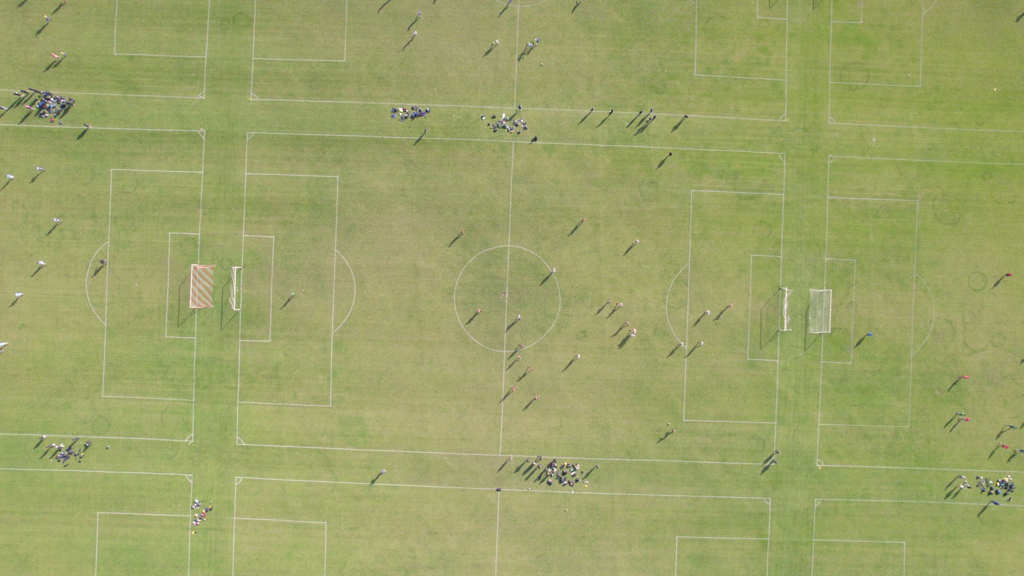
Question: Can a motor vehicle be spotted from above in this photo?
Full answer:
No, there is no motor vehicle in the image.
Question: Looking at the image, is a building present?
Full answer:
No, there isn't any building down there.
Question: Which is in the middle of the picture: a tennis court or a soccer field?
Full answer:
It is a soccer field that can be seen in the middle of the picture.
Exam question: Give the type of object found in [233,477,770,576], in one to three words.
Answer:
soccer field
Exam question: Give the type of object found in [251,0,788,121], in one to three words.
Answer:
soccer field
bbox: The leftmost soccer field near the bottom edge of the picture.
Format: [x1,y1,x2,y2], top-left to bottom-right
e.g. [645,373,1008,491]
[0,468,193,576]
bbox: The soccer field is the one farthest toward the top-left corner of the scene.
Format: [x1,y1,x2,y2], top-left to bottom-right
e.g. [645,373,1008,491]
[0,0,209,98]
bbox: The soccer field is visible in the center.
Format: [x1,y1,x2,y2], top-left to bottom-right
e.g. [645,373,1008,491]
[236,132,785,464]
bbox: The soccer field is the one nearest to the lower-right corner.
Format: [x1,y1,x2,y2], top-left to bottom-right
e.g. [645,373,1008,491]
[812,499,1024,576]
